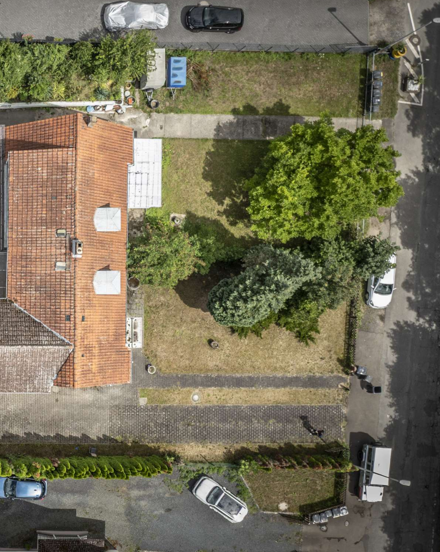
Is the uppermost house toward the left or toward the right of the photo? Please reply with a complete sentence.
The uppermost house is on the left side of the image.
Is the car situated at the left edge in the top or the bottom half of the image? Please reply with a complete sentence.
The car situated at the left edge is in the bottom half of the image.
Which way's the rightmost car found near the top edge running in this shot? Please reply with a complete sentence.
From this overhead view, the rightmost car found near the top edge appears to run horizontally.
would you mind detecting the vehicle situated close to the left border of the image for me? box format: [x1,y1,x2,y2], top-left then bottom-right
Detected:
[0,473,47,503]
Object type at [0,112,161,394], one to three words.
house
